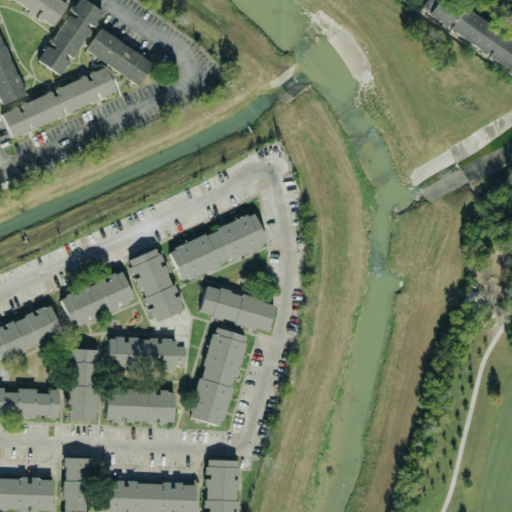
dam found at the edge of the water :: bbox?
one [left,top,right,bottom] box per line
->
[270,65,312,103]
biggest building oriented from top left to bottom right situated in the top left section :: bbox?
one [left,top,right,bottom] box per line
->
[88,29,152,84]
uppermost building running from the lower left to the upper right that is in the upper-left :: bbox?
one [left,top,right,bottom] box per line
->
[38,0,104,75]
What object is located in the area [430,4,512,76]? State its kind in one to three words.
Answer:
house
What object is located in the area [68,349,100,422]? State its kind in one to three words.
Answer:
building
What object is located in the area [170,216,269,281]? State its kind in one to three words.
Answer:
building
